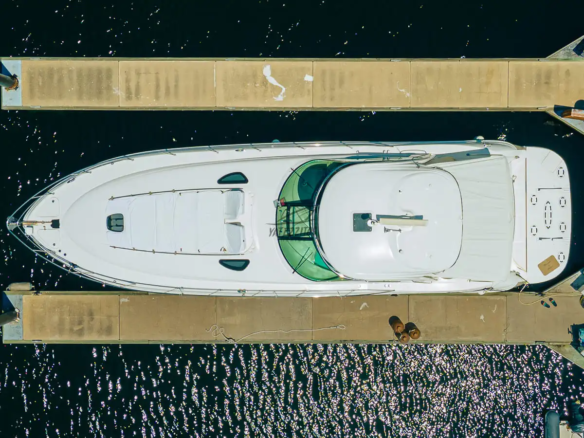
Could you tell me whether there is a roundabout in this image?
No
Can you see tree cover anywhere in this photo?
No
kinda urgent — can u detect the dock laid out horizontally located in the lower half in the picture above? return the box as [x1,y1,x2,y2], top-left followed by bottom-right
[3,267,584,368]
